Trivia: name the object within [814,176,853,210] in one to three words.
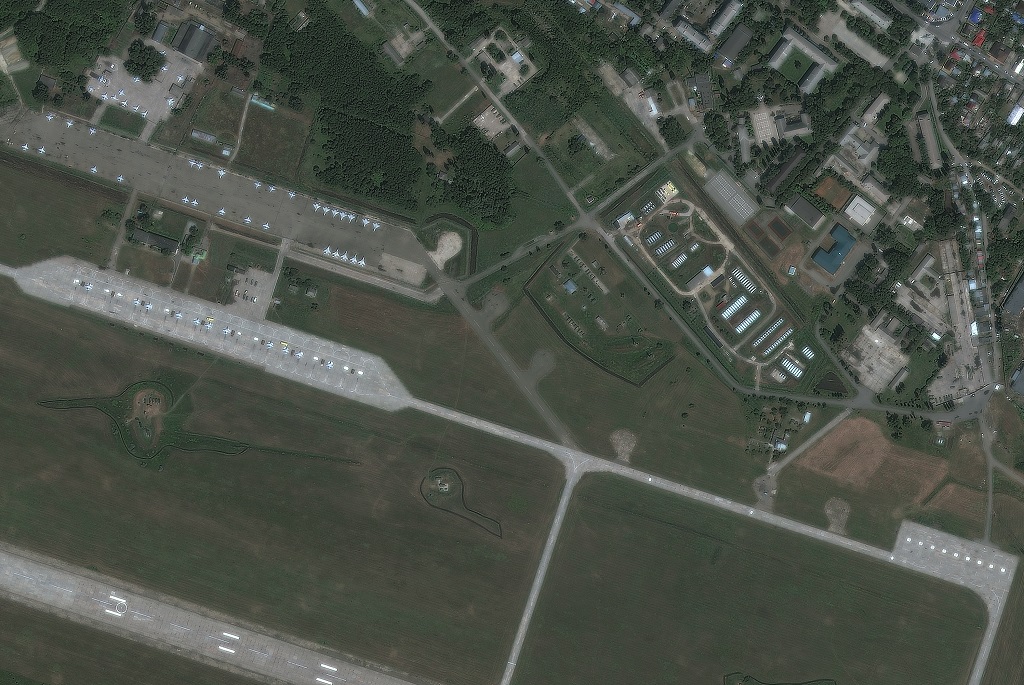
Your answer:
sports court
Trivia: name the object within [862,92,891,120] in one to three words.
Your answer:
building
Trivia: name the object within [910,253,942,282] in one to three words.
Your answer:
building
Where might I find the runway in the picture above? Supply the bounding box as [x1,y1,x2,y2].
[0,551,417,685]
